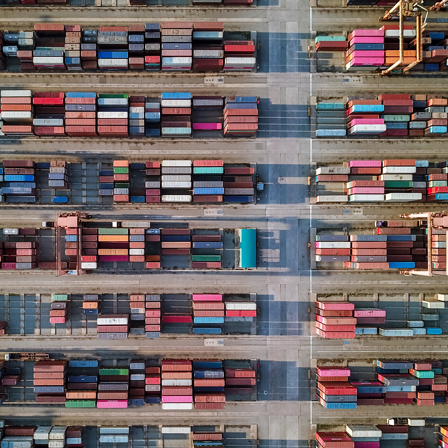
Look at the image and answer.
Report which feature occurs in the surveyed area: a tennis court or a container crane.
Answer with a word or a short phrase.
container crane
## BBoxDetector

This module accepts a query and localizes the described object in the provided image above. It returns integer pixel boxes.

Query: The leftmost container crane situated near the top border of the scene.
[372,0,428,77]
